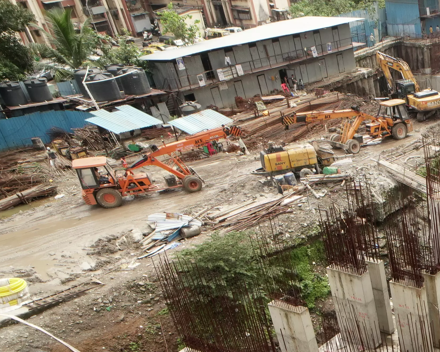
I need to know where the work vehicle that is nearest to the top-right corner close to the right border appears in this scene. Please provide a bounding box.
[378,50,440,120]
